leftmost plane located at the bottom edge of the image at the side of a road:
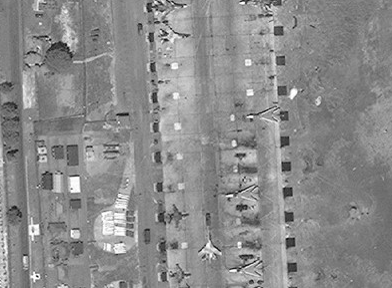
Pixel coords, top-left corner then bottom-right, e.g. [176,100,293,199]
[169,264,193,285]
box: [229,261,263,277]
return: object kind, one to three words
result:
airplane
